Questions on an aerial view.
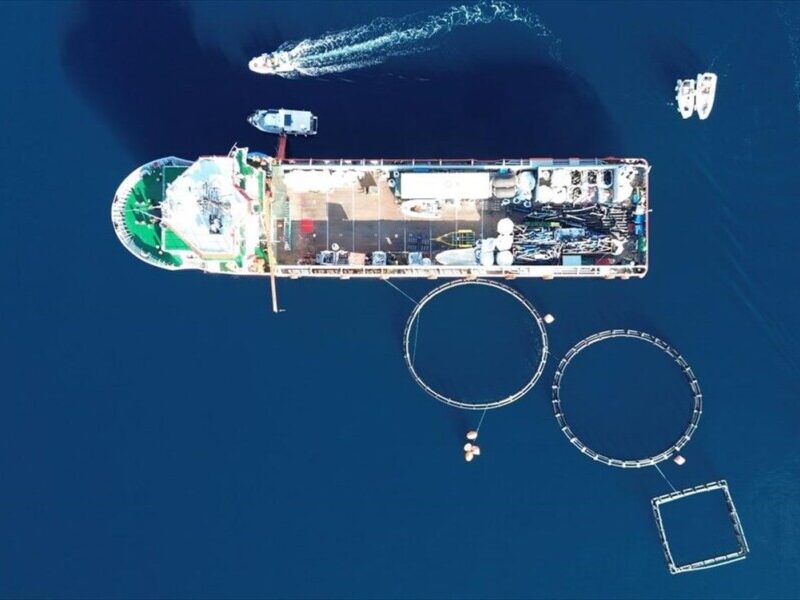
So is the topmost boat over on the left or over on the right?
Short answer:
left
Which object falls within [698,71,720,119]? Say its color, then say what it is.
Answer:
white boat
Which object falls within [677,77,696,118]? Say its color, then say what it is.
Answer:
white boat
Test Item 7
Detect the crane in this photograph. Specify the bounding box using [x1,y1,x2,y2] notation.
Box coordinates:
[258,189,284,312]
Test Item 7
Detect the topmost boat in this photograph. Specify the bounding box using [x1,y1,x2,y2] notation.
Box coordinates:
[248,51,296,72]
